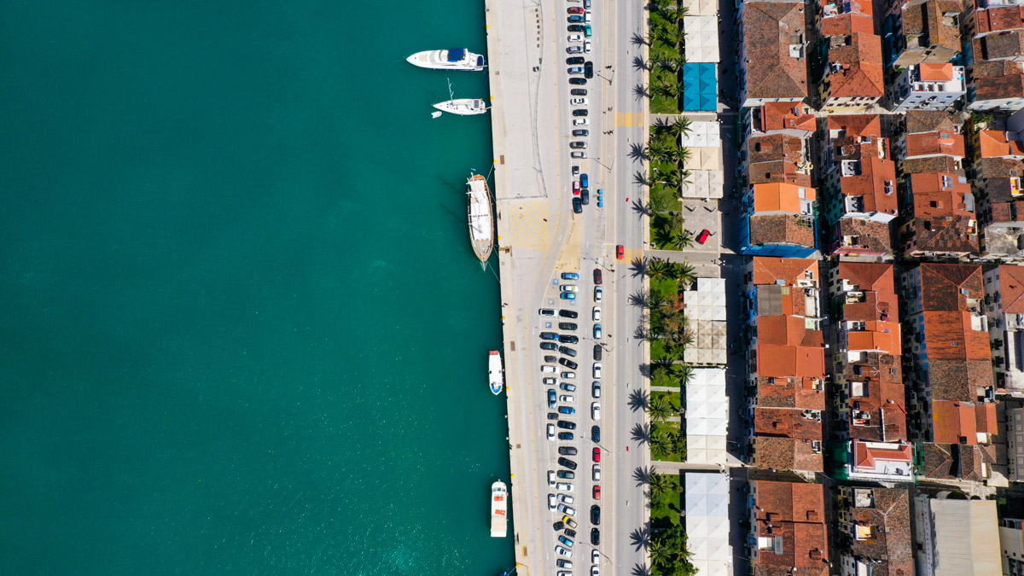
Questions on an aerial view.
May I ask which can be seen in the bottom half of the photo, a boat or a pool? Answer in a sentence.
What appears in the bottom half of the photo is a boat.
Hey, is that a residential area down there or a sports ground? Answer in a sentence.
It's a residential area.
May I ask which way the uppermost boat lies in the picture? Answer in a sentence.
What the image shows is the uppermost boat lying from side to side.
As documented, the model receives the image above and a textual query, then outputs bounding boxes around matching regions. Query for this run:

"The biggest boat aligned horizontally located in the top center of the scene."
[408,50,488,71]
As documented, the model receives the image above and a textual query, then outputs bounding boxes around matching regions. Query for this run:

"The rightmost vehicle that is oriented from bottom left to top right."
[696,228,709,245]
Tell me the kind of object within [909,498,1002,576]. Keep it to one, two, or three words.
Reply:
building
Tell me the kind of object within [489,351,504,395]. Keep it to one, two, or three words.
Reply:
boat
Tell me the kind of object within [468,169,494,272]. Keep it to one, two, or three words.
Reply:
ship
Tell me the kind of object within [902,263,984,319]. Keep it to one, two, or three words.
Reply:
house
